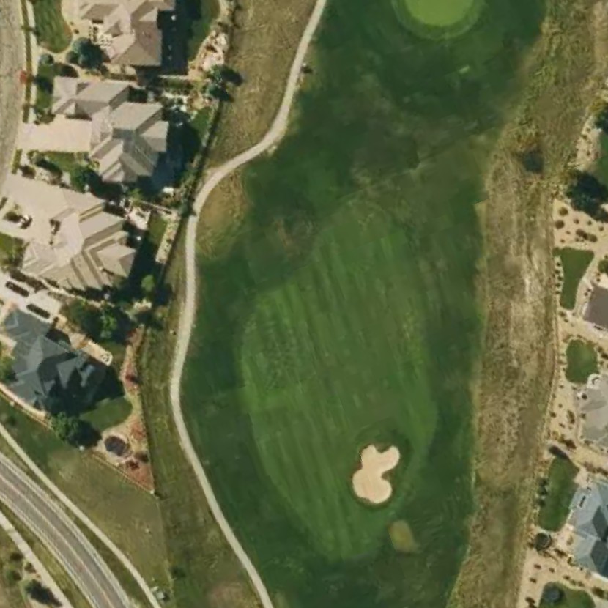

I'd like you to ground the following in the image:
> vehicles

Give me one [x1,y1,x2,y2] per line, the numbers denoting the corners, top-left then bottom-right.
[7,282,26,295]
[27,303,46,317]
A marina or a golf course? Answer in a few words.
golf course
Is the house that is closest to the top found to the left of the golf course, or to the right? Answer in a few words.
to the left of it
